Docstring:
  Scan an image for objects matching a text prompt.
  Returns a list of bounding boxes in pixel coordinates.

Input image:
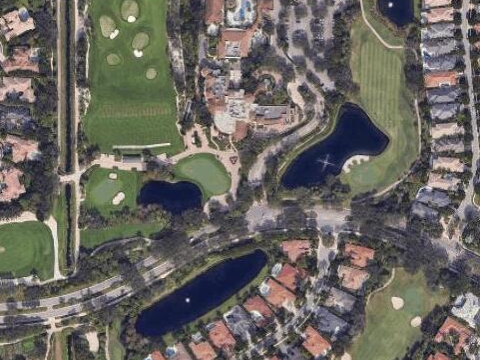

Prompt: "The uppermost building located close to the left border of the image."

[0,9,35,42]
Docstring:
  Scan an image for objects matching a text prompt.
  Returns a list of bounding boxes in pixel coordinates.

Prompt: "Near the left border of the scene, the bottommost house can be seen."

[0,167,23,201]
